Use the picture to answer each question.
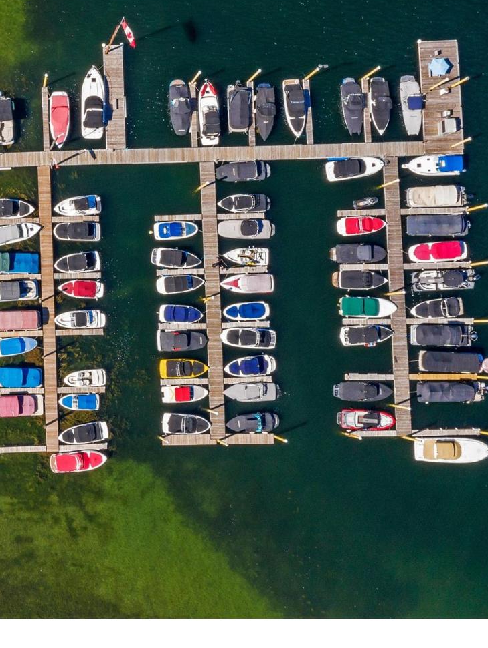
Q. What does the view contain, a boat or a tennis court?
boat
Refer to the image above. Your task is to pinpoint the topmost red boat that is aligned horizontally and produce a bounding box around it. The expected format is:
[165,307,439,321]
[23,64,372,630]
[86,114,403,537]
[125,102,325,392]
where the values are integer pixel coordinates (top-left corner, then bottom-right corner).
[334,216,387,235]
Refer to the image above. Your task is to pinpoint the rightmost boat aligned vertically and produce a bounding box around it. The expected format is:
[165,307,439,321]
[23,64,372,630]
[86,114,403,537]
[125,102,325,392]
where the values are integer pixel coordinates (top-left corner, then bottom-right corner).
[397,76,425,138]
